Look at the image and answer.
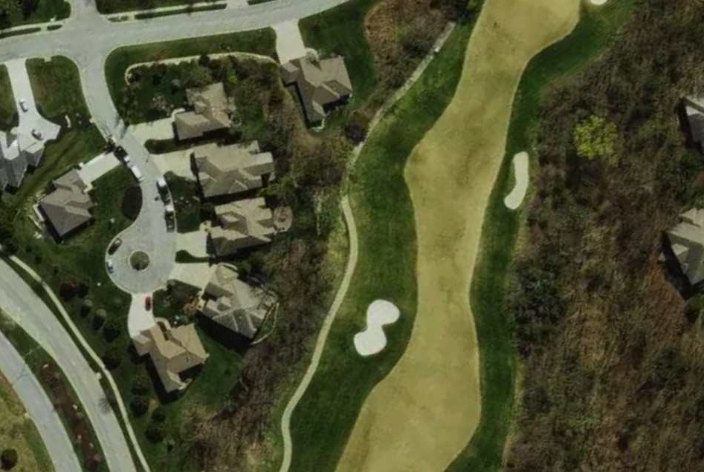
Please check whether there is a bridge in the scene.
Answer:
No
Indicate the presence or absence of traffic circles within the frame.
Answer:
Yes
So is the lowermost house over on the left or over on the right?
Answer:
left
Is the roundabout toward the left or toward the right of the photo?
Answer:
left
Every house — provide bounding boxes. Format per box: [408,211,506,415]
[194,139,278,195]
[204,195,275,256]
[199,262,276,337]
[129,321,207,393]
[172,79,235,138]
[681,89,704,159]
[37,169,100,237]
[0,130,44,189]
[279,52,355,121]
[669,205,704,288]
